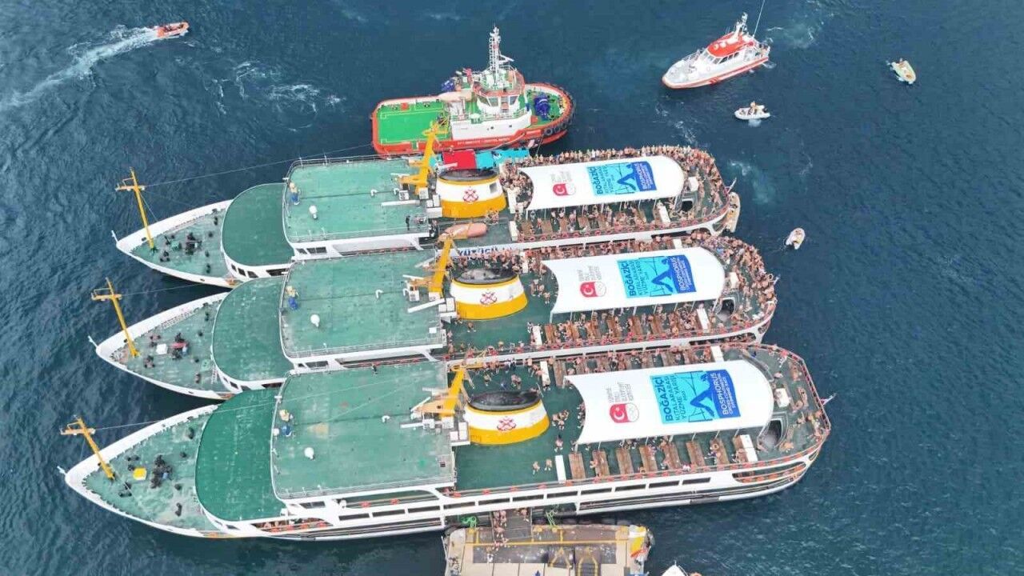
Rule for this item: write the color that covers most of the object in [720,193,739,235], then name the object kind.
white boat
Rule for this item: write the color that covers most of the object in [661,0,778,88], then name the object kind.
white boat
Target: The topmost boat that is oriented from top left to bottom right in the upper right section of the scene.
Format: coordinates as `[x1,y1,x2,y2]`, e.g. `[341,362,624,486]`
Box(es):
[888,58,919,81]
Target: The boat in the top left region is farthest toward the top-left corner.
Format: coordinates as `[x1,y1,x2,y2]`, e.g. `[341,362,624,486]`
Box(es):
[152,24,190,39]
